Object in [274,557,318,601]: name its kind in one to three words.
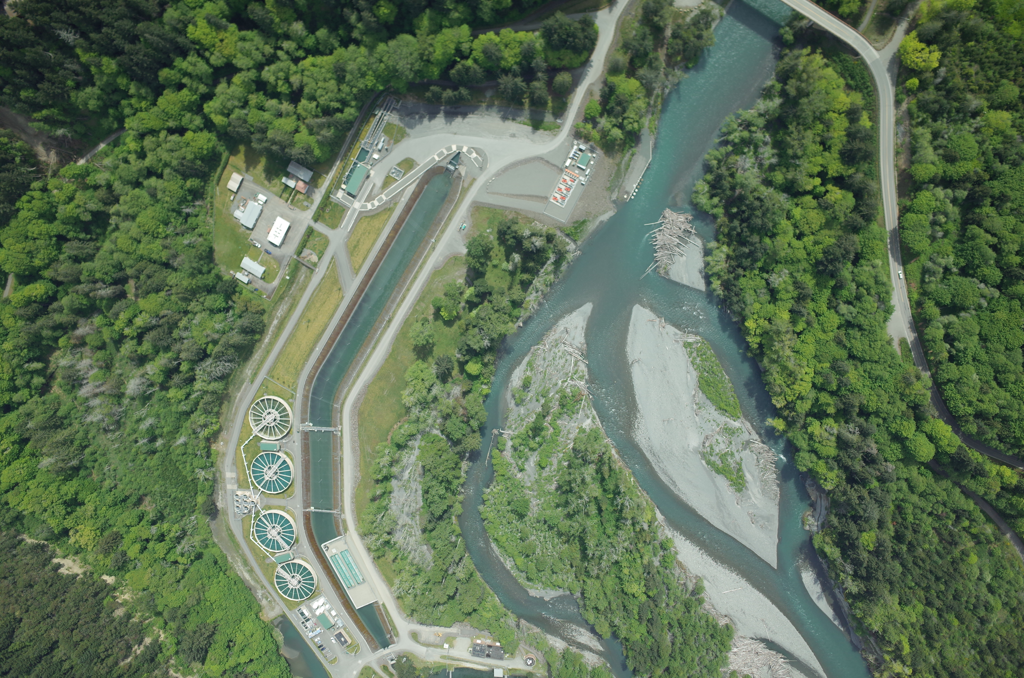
storage tank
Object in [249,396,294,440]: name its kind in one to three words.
storage tank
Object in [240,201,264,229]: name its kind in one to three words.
building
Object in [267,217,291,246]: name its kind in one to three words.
building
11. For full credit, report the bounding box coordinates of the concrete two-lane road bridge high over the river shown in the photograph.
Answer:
[782,0,871,54]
